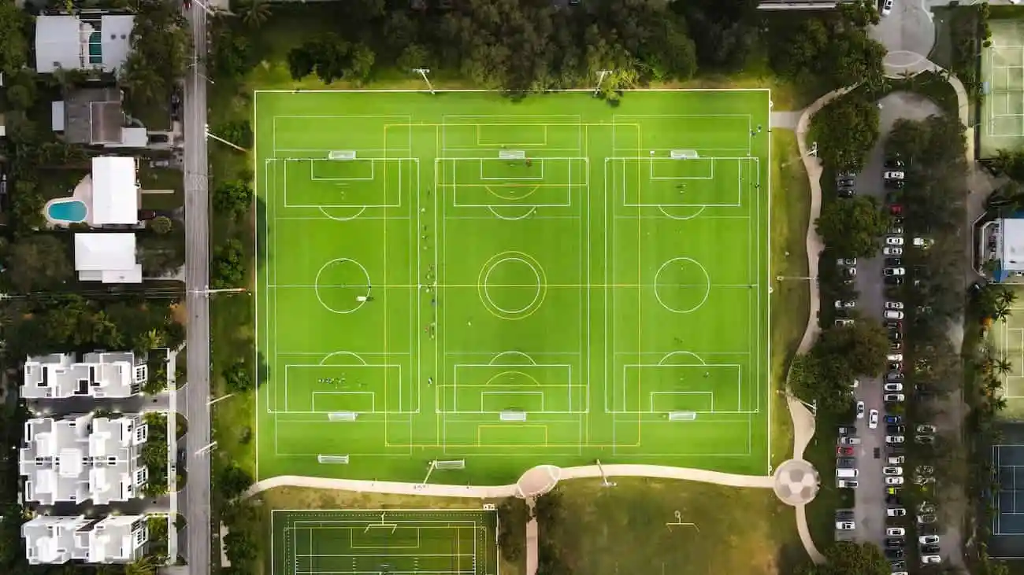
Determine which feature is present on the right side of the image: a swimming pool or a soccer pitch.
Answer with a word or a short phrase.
soccer pitch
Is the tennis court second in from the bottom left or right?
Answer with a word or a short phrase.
right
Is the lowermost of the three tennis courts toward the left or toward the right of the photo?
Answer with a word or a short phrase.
right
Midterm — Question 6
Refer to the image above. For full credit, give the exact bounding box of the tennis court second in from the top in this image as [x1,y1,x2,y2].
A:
[990,284,1024,422]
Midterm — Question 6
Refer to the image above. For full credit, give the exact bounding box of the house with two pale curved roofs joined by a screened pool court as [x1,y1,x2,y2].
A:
[34,12,138,81]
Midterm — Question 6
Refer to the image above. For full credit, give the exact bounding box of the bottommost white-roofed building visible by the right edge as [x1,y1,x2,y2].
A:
[987,210,1024,283]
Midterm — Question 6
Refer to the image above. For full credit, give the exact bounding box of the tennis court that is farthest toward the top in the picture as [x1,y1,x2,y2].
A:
[984,19,1024,157]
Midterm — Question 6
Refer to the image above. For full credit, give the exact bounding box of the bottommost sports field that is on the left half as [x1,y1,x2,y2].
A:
[271,510,498,575]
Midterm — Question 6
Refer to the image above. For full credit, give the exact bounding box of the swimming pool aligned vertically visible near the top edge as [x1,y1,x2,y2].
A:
[80,17,102,64]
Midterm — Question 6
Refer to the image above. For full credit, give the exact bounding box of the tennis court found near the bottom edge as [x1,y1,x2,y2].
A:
[986,424,1024,558]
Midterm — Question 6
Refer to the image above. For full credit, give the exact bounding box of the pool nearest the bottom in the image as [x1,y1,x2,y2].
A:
[44,173,93,229]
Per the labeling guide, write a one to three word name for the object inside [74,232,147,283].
house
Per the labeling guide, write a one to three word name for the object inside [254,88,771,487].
sports field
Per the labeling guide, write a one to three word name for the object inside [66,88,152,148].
house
